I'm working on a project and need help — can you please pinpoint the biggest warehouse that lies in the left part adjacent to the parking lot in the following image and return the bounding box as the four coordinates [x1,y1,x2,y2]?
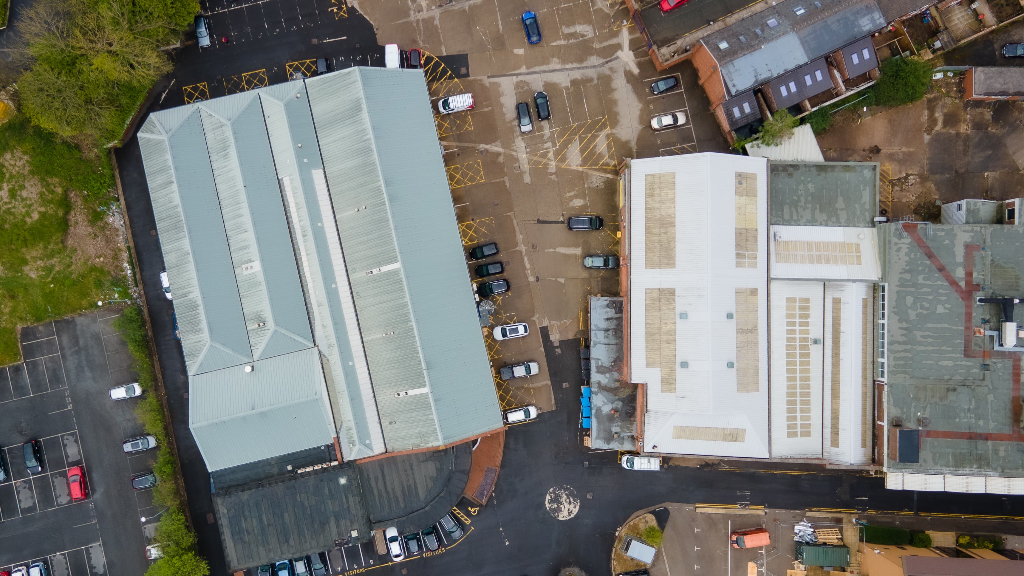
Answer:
[135,66,508,473]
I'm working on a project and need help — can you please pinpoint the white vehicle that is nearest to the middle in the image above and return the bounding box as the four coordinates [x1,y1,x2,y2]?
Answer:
[493,322,529,341]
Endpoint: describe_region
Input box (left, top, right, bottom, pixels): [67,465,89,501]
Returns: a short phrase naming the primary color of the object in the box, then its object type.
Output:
red car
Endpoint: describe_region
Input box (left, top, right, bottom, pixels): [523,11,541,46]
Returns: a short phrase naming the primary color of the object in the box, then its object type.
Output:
blue car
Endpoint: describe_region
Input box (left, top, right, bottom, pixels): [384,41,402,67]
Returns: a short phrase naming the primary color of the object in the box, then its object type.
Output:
white vehicle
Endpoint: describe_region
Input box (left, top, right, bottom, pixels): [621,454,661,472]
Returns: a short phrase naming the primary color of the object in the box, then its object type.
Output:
white vehicle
